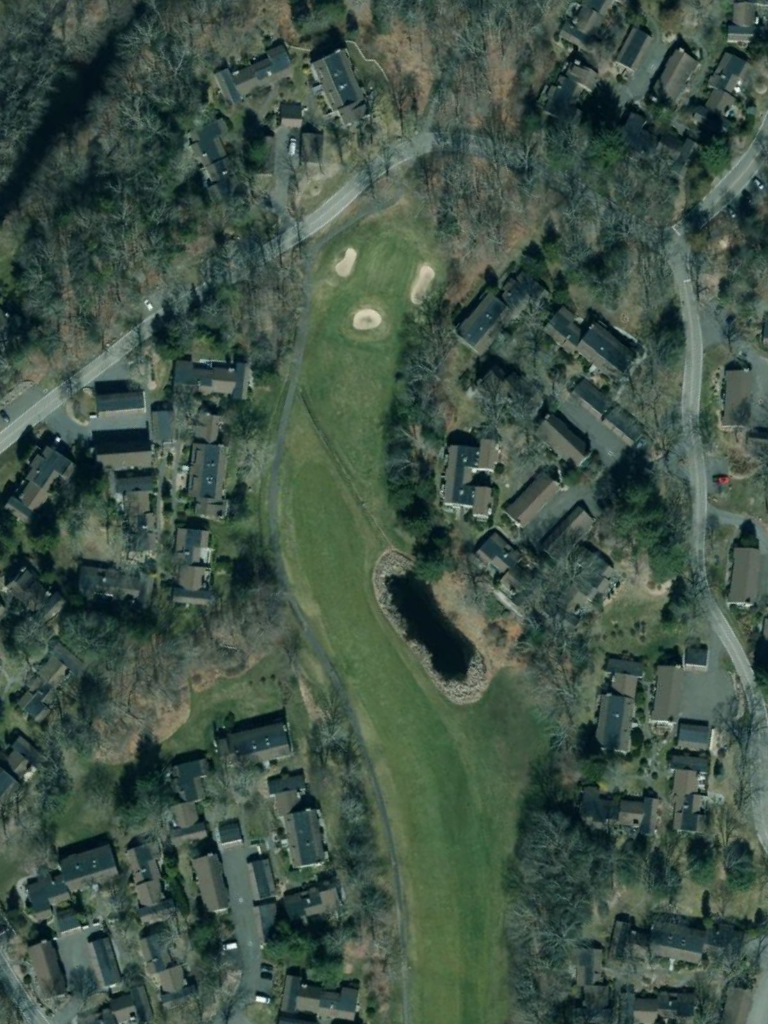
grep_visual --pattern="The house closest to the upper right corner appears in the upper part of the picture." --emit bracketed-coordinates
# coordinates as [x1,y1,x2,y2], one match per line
[727,0,758,43]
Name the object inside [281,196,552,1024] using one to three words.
golf course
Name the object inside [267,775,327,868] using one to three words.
house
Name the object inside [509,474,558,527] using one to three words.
building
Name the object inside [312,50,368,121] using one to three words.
house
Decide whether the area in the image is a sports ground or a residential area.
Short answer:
residential area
